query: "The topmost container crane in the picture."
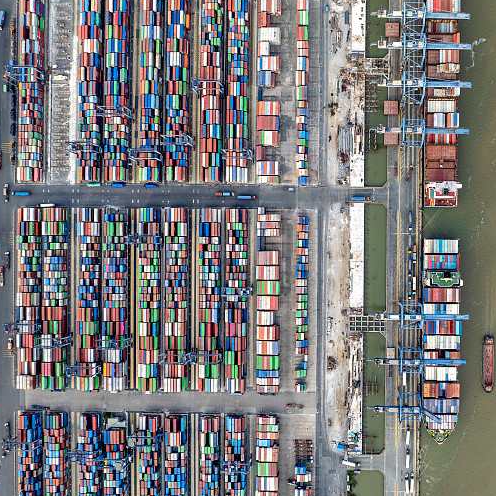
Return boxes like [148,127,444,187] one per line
[373,2,471,42]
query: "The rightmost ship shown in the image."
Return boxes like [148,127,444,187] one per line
[481,334,494,392]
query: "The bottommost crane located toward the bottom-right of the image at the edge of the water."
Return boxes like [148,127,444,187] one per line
[369,381,437,426]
